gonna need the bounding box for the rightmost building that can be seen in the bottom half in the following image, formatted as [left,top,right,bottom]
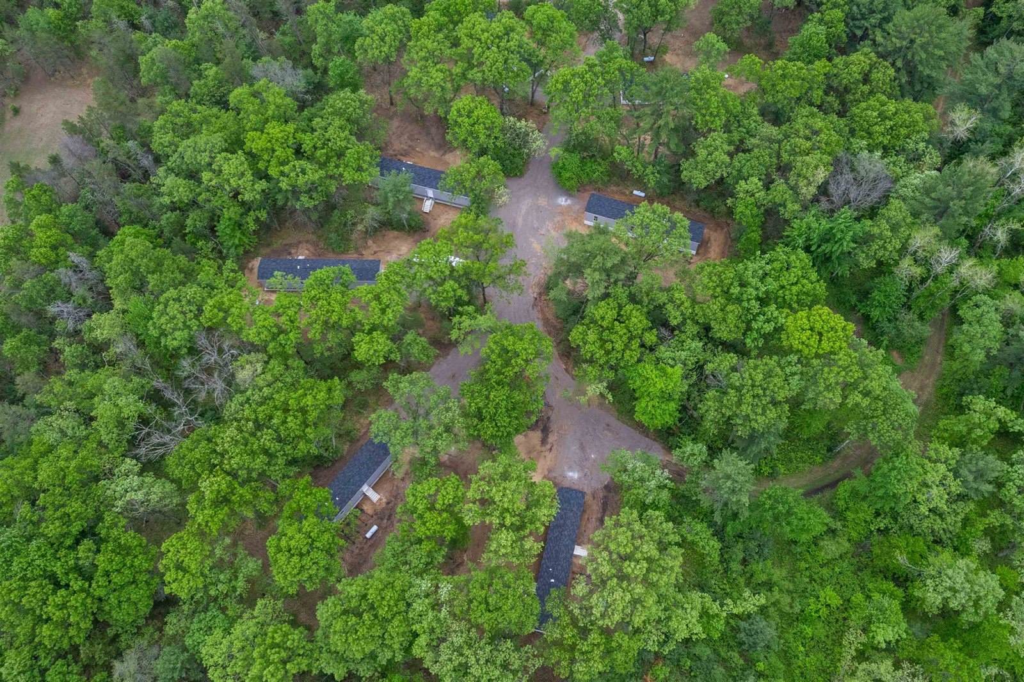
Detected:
[526,486,585,637]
